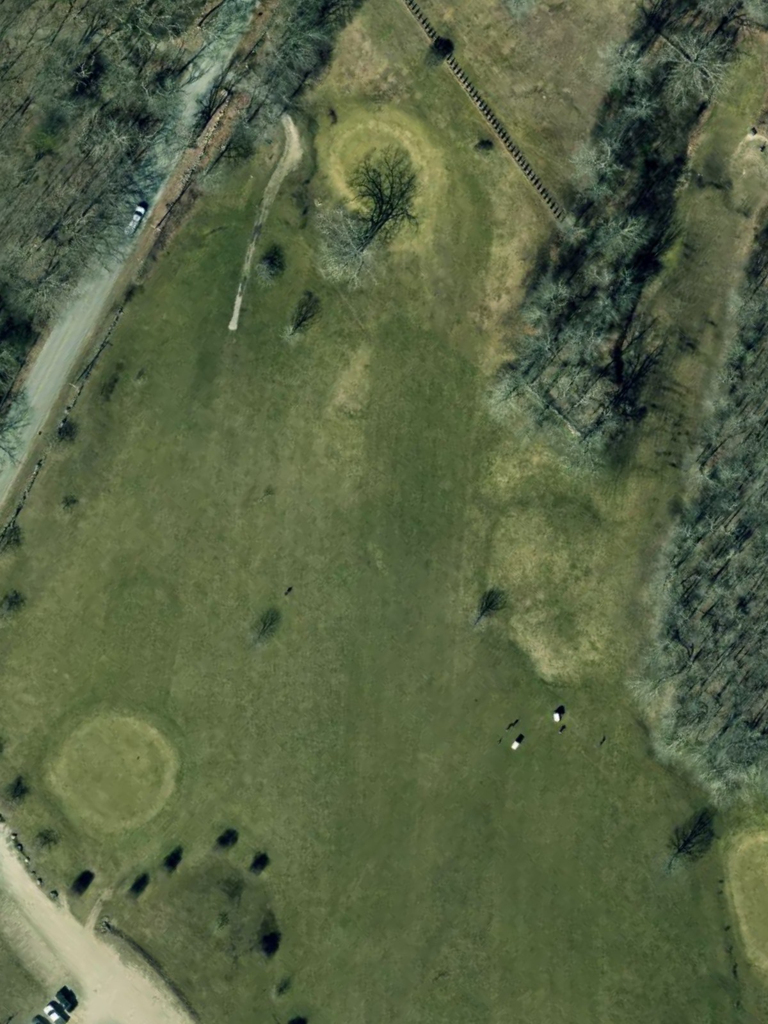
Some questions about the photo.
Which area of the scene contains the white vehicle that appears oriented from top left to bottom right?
bottom left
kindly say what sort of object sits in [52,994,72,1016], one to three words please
car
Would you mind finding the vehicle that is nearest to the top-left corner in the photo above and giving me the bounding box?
[124,204,146,235]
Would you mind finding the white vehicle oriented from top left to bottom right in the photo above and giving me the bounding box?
[40,1004,64,1024]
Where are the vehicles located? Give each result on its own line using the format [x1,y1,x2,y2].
[52,994,72,1016]
[510,740,520,752]
[553,712,561,724]
[124,204,146,235]
[40,1004,64,1024]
